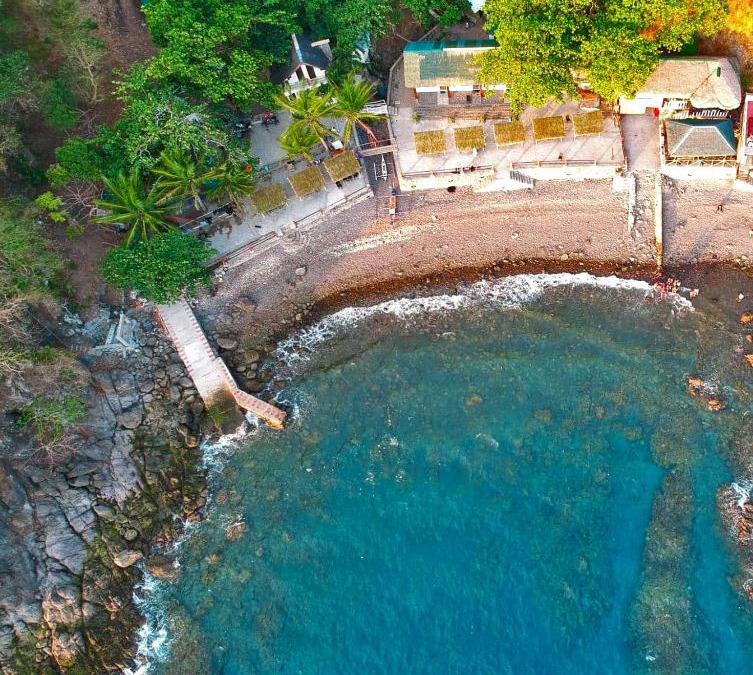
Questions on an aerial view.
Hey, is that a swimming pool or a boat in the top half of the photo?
boat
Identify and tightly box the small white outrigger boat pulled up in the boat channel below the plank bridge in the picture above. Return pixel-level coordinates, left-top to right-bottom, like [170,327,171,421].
[374,155,392,182]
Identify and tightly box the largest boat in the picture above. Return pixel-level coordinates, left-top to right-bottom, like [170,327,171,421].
[379,182,410,220]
